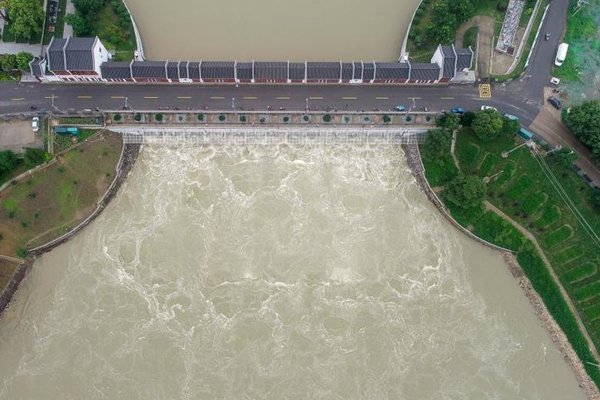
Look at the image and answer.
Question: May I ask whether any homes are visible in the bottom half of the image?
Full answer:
No, no home is visible in the bottom half of the image.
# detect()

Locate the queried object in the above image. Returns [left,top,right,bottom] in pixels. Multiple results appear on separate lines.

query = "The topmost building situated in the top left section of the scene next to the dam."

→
[45,36,111,81]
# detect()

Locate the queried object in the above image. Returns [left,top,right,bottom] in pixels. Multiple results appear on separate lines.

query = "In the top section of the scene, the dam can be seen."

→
[102,111,435,146]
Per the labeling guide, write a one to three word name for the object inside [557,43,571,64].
vehicle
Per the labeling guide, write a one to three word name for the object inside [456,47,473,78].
house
